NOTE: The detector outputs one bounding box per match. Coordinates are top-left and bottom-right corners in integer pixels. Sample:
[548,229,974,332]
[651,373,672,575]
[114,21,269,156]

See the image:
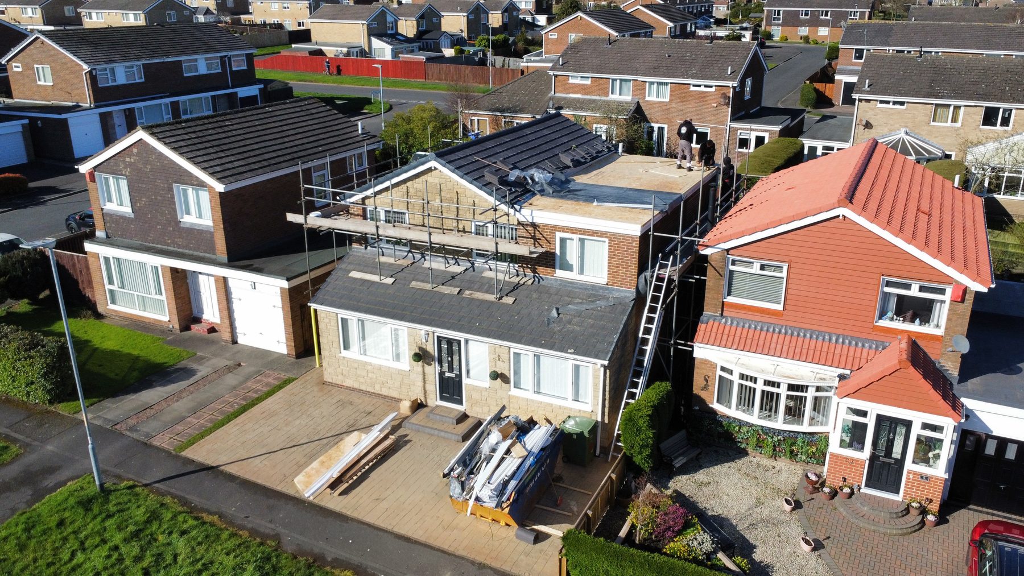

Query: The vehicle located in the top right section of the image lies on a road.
[758,43,786,57]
